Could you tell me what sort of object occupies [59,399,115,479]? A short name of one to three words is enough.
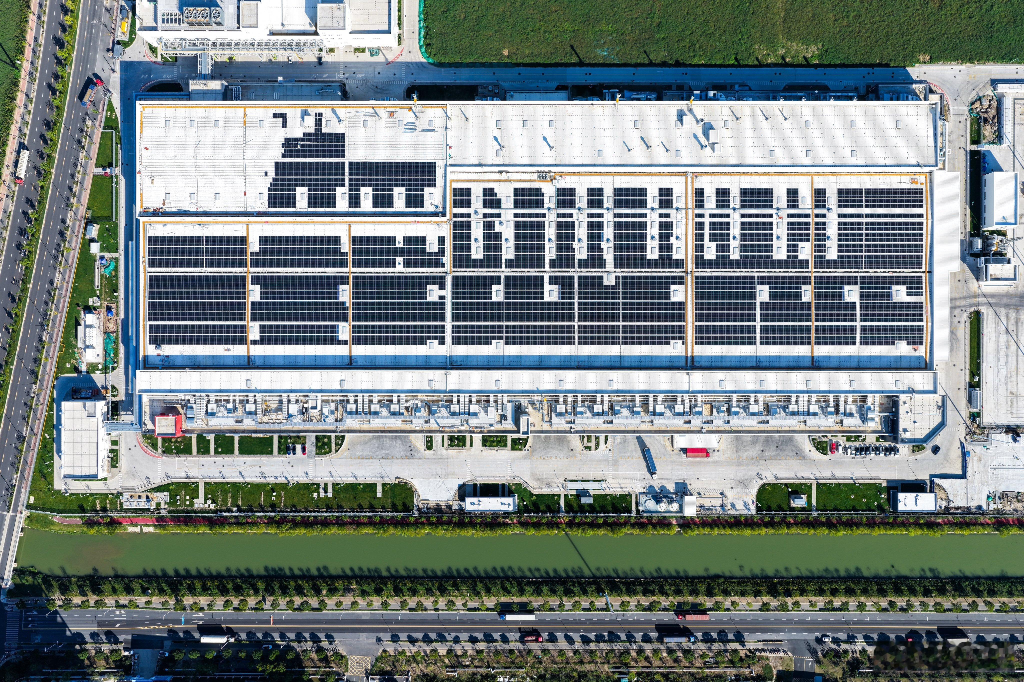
building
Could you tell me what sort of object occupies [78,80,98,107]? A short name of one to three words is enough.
vehicle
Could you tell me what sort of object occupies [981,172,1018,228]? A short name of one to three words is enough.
building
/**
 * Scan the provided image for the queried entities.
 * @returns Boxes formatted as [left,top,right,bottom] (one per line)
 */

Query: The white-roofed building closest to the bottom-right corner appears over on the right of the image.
[888,489,937,512]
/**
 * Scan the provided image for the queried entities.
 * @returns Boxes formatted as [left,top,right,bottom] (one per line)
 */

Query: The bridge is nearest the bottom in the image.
[0,510,25,584]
